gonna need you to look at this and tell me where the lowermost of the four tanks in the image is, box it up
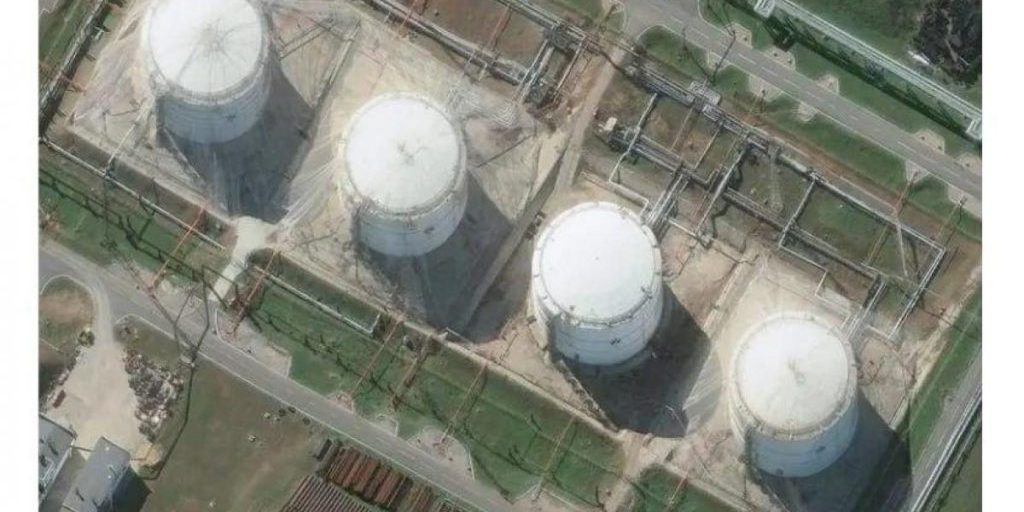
[733,311,864,481]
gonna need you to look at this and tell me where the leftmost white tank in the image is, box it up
[139,0,282,147]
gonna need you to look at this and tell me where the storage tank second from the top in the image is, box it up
[340,92,473,259]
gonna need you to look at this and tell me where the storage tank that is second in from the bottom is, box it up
[532,200,668,370]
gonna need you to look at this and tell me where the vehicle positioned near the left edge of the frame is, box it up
[50,387,66,407]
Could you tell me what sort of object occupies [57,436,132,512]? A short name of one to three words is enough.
building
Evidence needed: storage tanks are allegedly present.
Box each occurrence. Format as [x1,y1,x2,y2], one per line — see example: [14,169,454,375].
[532,200,668,370]
[733,311,864,481]
[340,92,473,259]
[139,0,282,147]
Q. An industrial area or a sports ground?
industrial area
